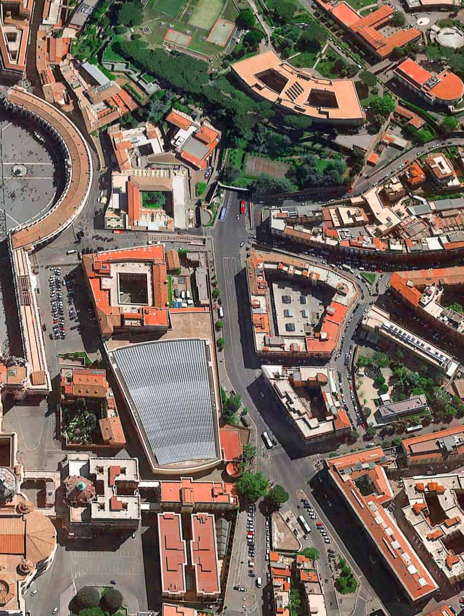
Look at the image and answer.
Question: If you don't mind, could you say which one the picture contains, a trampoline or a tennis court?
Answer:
tennis court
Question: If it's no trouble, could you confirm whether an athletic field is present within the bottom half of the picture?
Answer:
No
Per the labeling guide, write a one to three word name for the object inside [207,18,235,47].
tennis court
